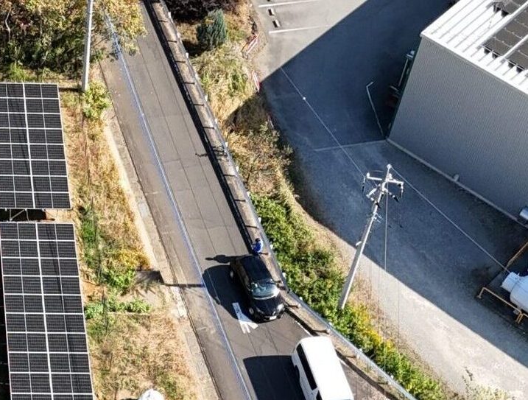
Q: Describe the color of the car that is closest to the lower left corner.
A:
black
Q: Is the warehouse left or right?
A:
right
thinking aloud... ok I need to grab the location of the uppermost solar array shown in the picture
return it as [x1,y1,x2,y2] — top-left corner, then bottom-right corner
[477,0,528,79]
